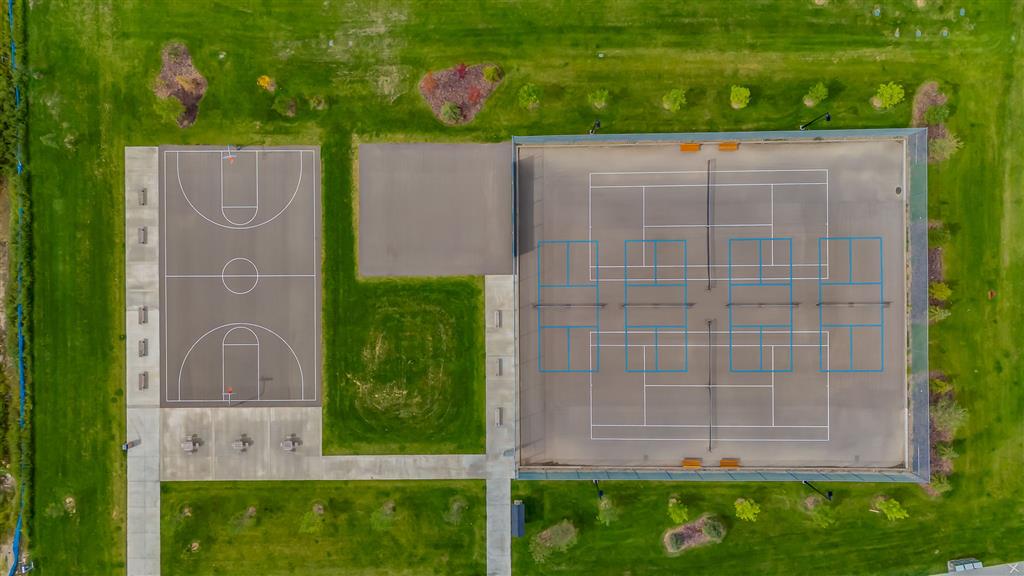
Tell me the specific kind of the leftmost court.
basketball court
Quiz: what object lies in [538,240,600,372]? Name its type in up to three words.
sports court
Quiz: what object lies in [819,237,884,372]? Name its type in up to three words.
sports court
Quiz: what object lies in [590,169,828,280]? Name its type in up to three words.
tennis court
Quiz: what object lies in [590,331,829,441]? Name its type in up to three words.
tennis court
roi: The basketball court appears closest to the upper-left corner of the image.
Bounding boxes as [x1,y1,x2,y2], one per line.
[159,147,322,407]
